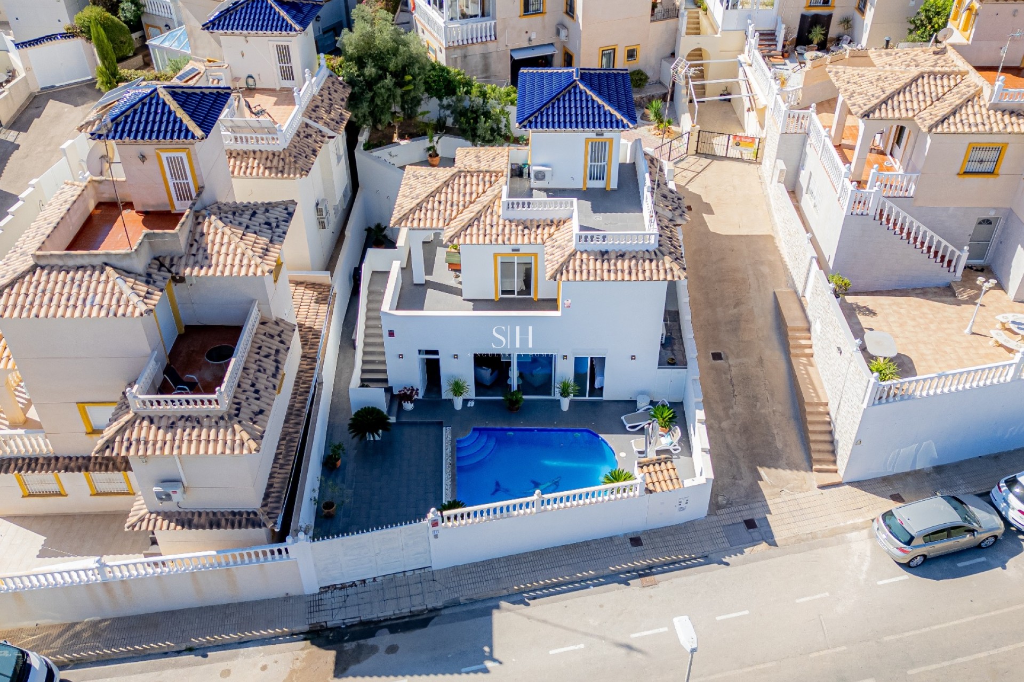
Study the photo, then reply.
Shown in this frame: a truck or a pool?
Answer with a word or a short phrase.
pool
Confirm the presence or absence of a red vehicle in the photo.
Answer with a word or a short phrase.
No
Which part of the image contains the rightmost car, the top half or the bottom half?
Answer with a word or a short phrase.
bottom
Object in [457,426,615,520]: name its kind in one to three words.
swimming pool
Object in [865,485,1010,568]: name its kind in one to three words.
car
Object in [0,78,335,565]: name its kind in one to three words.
house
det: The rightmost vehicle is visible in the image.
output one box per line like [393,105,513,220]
[986,465,1024,526]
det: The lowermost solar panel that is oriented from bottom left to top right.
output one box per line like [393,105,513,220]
[83,78,145,125]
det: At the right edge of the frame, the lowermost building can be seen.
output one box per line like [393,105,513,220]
[781,45,1024,289]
